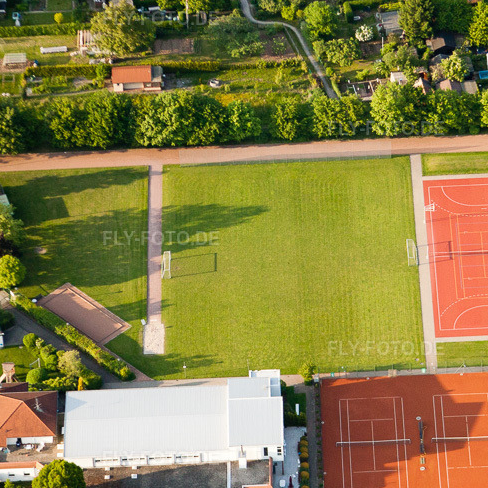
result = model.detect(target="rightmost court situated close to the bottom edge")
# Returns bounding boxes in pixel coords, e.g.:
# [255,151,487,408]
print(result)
[428,389,488,488]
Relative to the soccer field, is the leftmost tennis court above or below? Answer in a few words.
below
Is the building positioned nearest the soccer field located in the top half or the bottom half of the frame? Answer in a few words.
bottom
